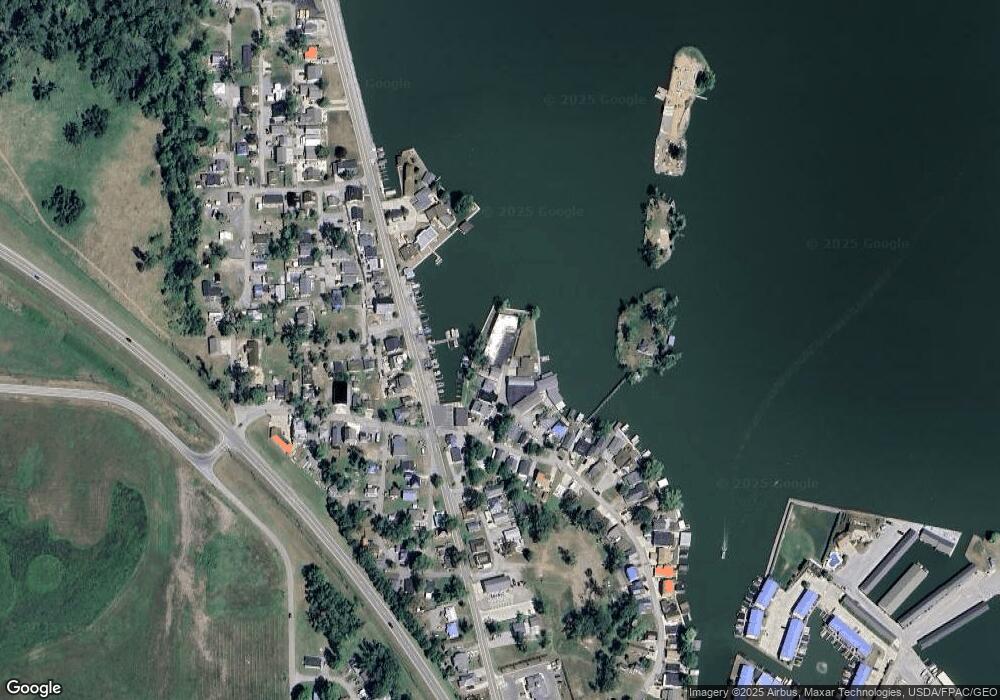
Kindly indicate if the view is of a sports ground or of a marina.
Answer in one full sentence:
This looks like a marina.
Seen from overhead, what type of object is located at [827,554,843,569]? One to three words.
swimming pool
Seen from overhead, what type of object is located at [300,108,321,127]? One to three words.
house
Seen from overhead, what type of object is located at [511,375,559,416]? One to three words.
building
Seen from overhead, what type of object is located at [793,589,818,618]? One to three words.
shed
